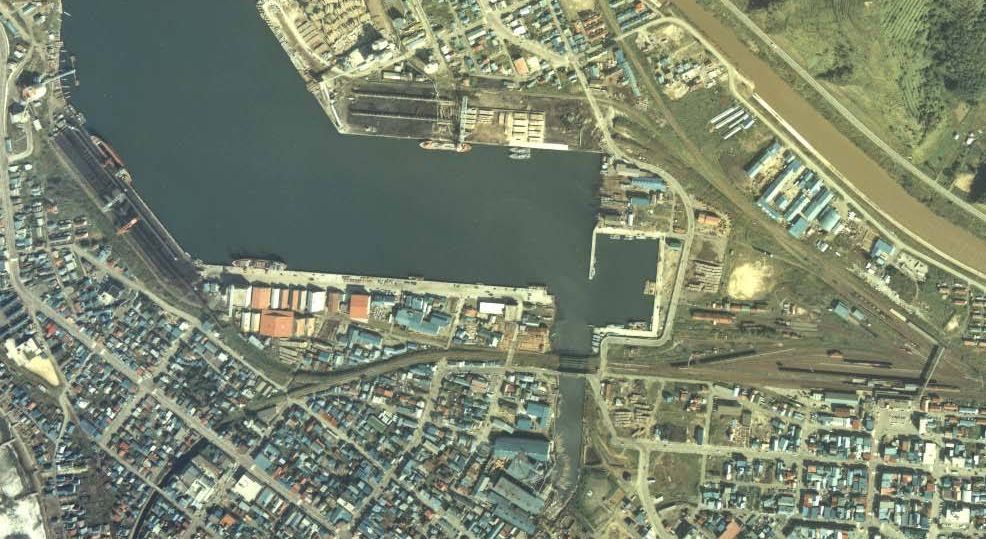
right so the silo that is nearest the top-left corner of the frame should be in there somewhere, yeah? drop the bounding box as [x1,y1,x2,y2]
[21,85,50,106]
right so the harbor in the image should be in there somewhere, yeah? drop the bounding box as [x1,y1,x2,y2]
[69,3,666,352]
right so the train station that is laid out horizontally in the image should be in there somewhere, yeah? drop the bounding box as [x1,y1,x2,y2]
[813,377,931,425]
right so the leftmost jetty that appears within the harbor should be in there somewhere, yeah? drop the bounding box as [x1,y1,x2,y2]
[69,122,195,266]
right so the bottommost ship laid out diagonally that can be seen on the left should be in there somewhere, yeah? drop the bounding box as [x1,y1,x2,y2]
[90,136,134,185]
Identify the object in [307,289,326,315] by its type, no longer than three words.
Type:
building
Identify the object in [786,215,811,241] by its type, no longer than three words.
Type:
building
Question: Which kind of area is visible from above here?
port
